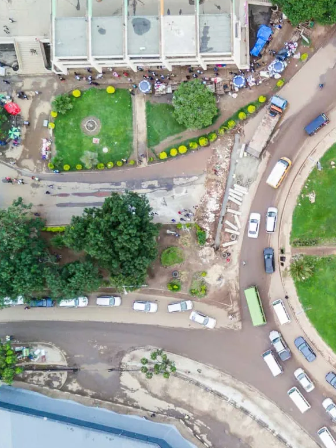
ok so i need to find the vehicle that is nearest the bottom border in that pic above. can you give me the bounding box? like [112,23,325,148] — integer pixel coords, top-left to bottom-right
[318,424,336,448]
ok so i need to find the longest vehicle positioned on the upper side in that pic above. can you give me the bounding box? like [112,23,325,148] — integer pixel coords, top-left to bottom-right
[247,95,287,158]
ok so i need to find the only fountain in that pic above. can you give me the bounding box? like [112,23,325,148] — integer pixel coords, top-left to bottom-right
[80,116,100,136]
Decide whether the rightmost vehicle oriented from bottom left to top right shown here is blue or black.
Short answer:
blue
